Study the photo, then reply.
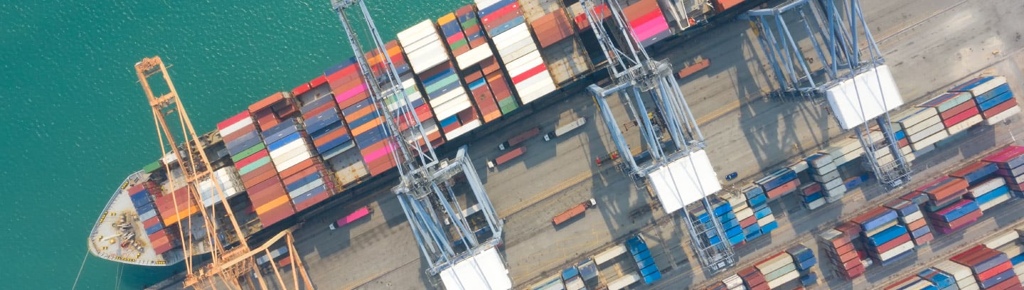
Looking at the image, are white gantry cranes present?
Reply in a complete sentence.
Yes, there is a white gantry crane in the image.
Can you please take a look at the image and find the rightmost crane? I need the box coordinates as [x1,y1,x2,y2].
[727,0,916,194]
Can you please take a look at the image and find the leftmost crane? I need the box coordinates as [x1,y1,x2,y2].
[132,58,351,290]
